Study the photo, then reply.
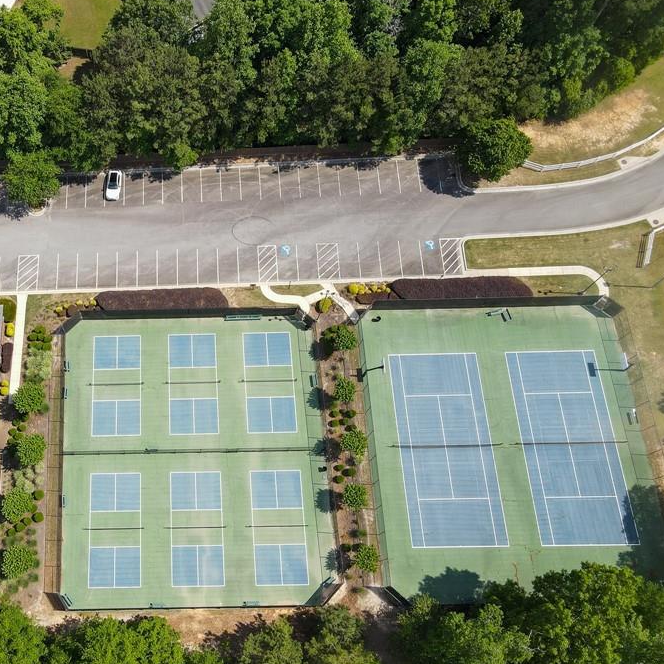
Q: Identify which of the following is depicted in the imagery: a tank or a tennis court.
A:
tennis court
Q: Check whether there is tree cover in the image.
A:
Yes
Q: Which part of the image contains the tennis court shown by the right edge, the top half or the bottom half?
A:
bottom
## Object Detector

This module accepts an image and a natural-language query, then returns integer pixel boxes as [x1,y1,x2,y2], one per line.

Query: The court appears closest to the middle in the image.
[242,332,298,434]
